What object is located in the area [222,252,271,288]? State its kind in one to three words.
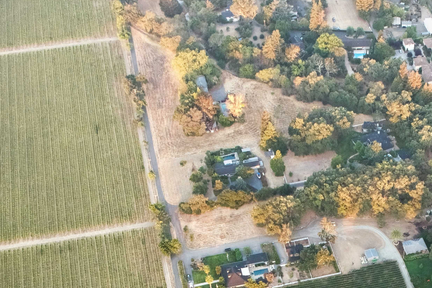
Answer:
house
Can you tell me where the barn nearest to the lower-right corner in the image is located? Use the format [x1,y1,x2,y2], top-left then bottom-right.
[400,238,429,256]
